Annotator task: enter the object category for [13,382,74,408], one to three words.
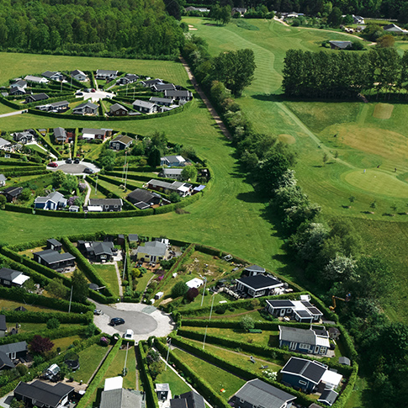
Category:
house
